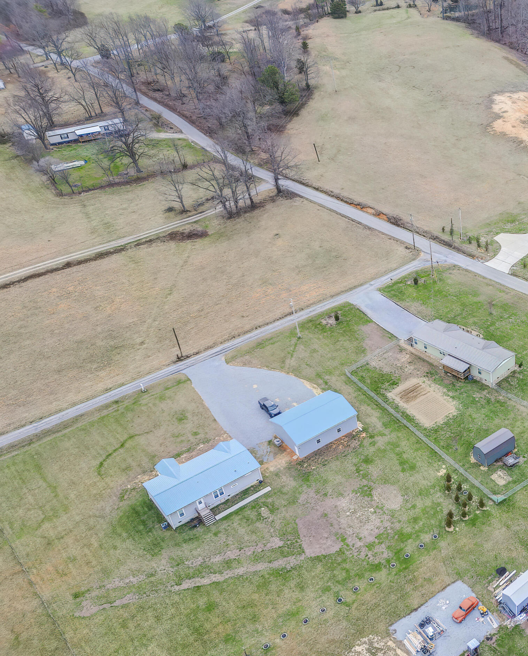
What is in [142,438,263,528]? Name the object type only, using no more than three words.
house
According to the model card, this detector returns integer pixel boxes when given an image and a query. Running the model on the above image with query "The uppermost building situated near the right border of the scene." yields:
[408,319,516,386]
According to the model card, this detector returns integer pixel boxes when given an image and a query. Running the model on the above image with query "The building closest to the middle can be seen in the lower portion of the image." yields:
[269,391,363,458]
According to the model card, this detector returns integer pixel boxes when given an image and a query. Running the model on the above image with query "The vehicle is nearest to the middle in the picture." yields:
[258,397,281,417]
